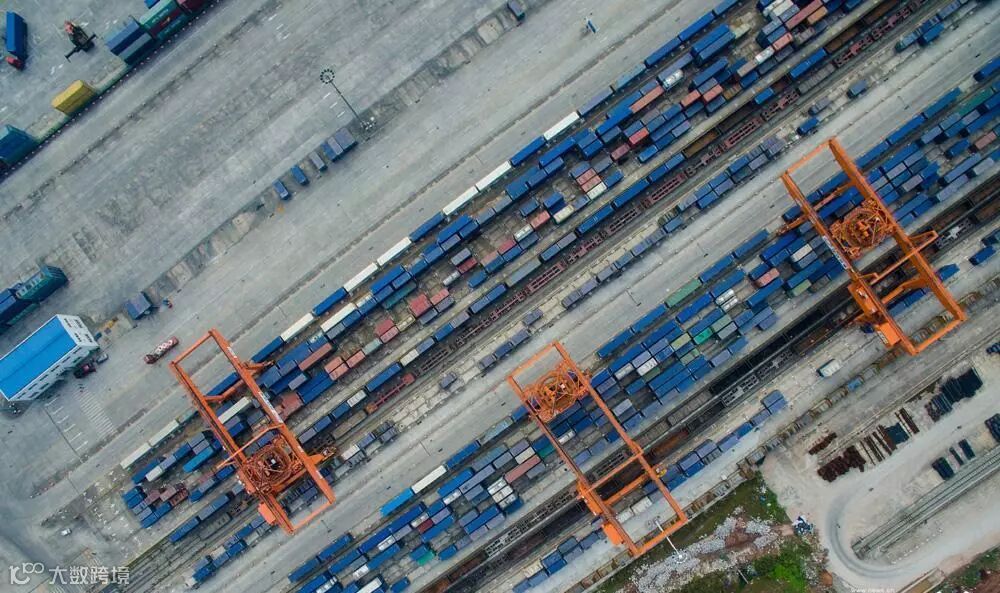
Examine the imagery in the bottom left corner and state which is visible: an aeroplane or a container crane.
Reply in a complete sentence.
Looking in the bottom left corner, you will find a container crane.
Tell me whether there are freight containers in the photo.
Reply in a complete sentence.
Yes, you can see a freight container in this photo.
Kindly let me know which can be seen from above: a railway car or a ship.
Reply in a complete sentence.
Of the two, only a railway car appears.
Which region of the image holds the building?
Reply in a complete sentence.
The building sits in the left section of the image.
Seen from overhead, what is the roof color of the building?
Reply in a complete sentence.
From above, the roof of the building looks blue.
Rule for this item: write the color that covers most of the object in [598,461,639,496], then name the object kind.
black rail car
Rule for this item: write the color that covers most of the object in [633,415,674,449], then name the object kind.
gray rail car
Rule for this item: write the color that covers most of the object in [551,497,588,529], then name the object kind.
black rail car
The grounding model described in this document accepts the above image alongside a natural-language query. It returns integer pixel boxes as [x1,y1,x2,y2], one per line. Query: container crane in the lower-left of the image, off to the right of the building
[167,331,341,535]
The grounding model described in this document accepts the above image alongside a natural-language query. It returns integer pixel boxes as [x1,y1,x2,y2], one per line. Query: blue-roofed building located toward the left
[0,316,97,400]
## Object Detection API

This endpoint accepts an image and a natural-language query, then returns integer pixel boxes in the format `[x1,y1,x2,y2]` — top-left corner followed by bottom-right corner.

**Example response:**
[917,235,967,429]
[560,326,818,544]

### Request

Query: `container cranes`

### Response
[778,139,967,356]
[167,331,341,535]
[506,342,687,556]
